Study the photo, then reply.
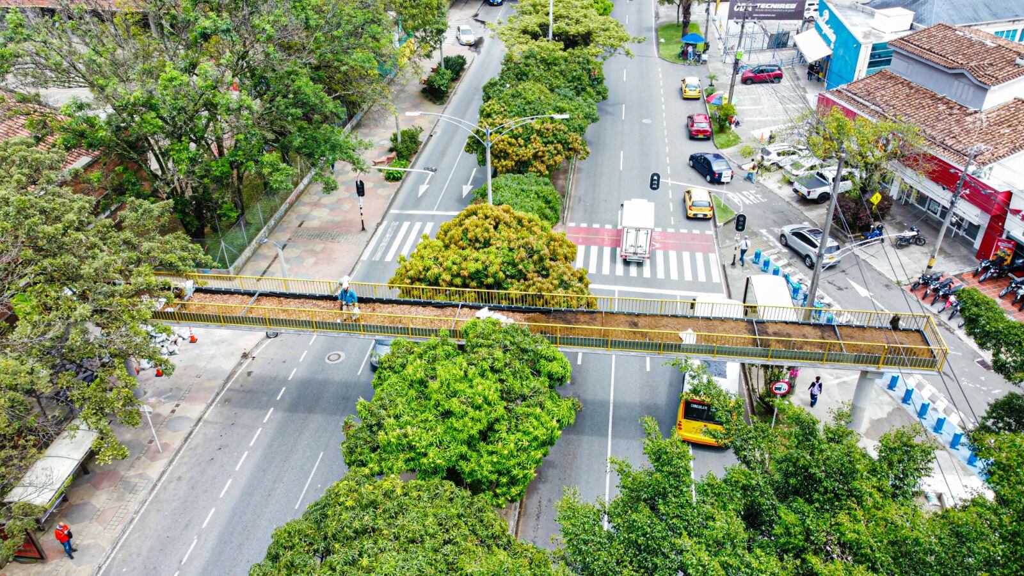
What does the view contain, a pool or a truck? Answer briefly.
truck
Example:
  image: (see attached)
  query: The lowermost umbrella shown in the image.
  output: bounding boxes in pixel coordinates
[710,84,741,106]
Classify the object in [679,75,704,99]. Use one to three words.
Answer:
car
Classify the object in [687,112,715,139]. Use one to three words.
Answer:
car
